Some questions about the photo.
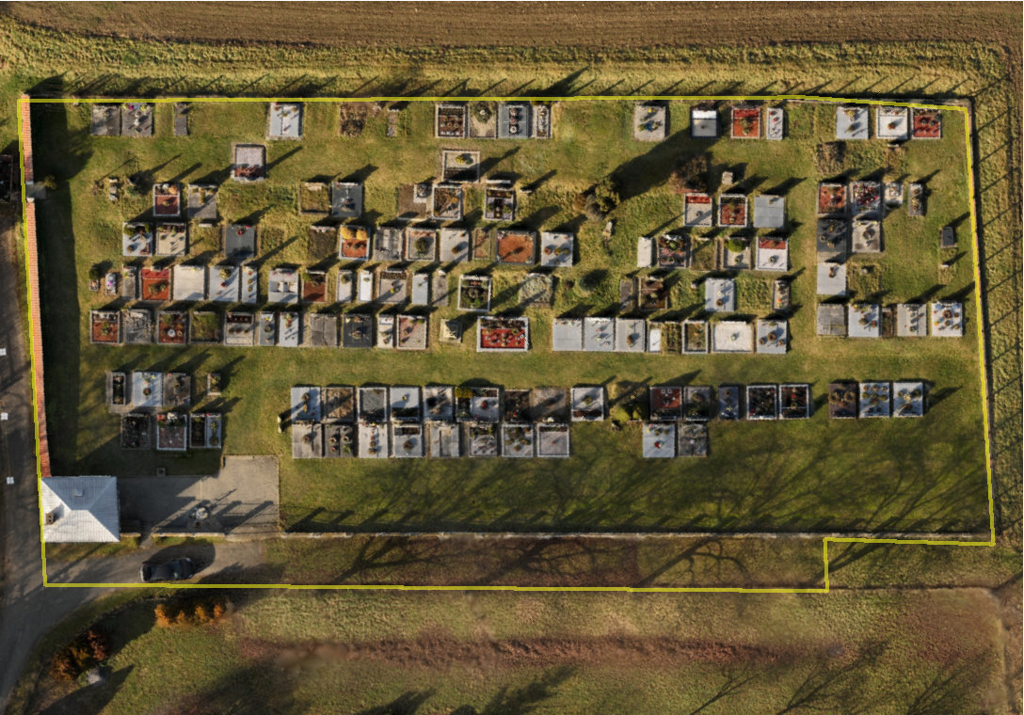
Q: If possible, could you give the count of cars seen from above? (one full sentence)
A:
The photo contains exactly 1 car.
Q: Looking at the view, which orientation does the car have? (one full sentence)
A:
The car has been laid out from left to right relative to the frame.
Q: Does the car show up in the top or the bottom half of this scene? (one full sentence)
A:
Seen from above, the car lies in the bottom half of the view.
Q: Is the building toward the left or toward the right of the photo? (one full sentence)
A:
The building sits on the left side.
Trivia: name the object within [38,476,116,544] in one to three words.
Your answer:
building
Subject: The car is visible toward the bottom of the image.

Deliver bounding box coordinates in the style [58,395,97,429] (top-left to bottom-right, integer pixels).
[139,557,194,583]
